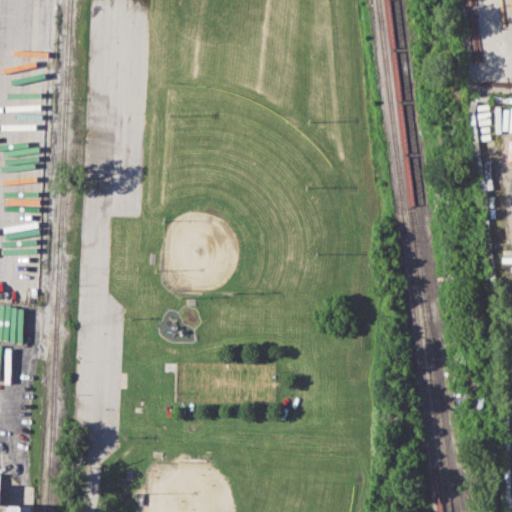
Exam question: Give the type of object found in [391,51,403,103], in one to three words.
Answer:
rail car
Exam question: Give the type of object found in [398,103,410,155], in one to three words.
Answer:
rail car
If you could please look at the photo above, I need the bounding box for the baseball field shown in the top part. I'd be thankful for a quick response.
[160,78,378,295]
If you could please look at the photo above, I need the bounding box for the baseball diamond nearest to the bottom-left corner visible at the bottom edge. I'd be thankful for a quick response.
[134,348,364,512]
